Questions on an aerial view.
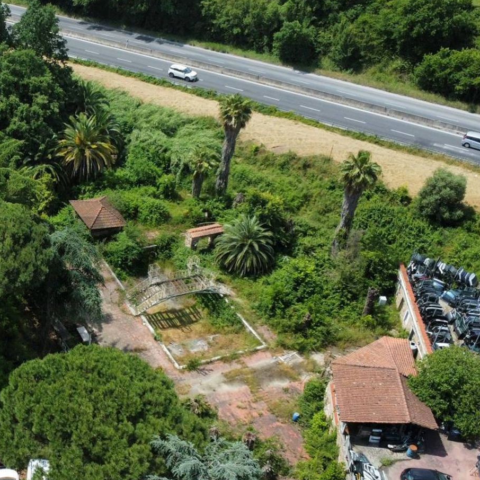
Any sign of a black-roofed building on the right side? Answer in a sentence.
No, no black-roofed building can be made out on the right side.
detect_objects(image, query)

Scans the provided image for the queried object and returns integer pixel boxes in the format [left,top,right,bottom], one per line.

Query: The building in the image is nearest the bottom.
[322,335,437,451]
